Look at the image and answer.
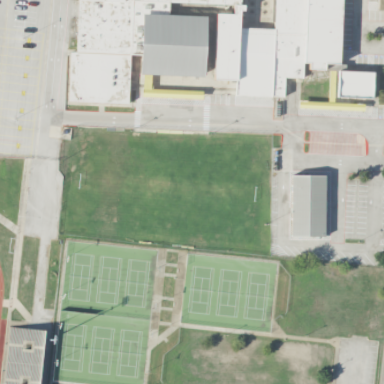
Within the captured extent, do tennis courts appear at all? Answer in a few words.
Yes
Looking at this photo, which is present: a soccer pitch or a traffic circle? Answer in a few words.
soccer pitch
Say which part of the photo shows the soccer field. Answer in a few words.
center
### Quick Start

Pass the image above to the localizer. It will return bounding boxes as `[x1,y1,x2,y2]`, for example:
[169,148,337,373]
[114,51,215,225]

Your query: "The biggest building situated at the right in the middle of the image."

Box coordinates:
[291,175,328,238]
